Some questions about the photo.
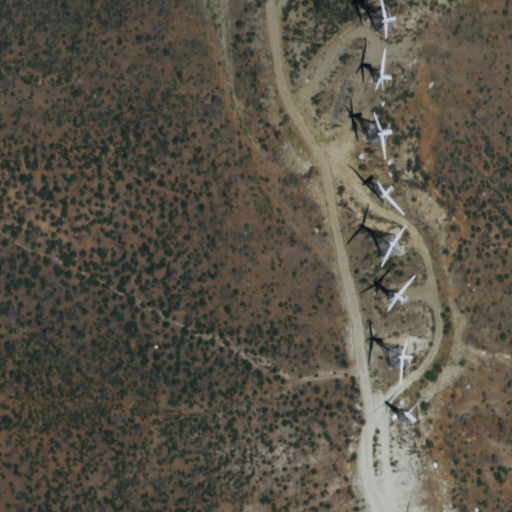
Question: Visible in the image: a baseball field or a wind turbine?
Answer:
wind turbine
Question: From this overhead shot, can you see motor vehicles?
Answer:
No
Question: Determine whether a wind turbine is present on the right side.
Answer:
Yes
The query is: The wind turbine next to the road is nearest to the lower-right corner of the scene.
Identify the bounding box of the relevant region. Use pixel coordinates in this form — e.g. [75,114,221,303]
[388,394,426,428]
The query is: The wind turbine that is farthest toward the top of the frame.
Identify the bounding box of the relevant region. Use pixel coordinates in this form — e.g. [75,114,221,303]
[370,0,397,40]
